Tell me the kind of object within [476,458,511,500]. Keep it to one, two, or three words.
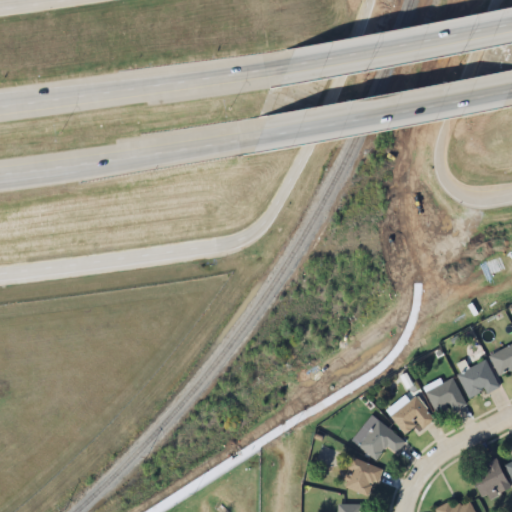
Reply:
house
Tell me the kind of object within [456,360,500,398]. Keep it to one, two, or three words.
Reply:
house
